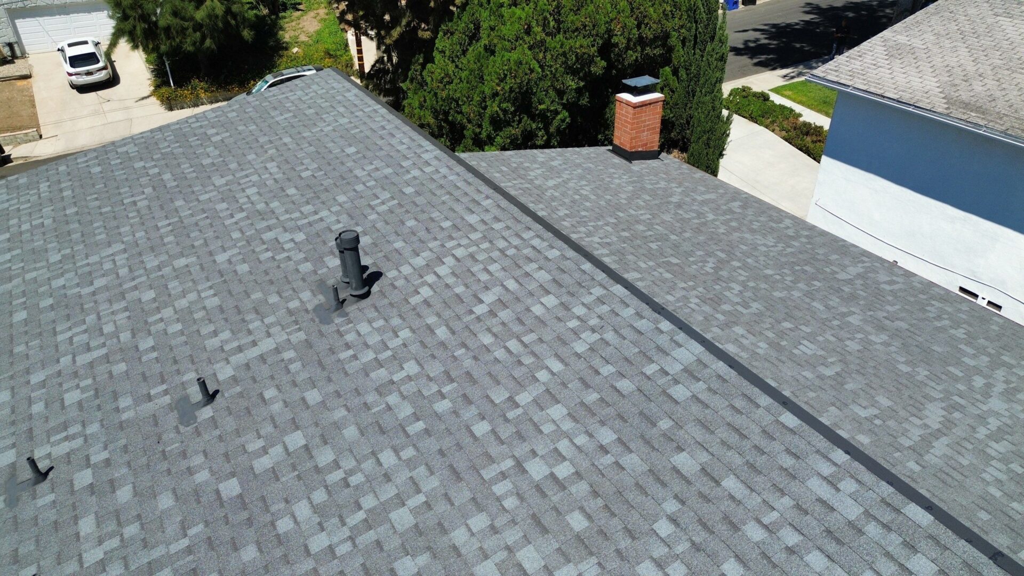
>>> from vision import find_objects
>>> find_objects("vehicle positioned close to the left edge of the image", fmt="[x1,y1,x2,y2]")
[45,38,109,88]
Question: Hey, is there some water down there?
No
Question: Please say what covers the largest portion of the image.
buildings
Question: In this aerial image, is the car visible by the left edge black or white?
white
